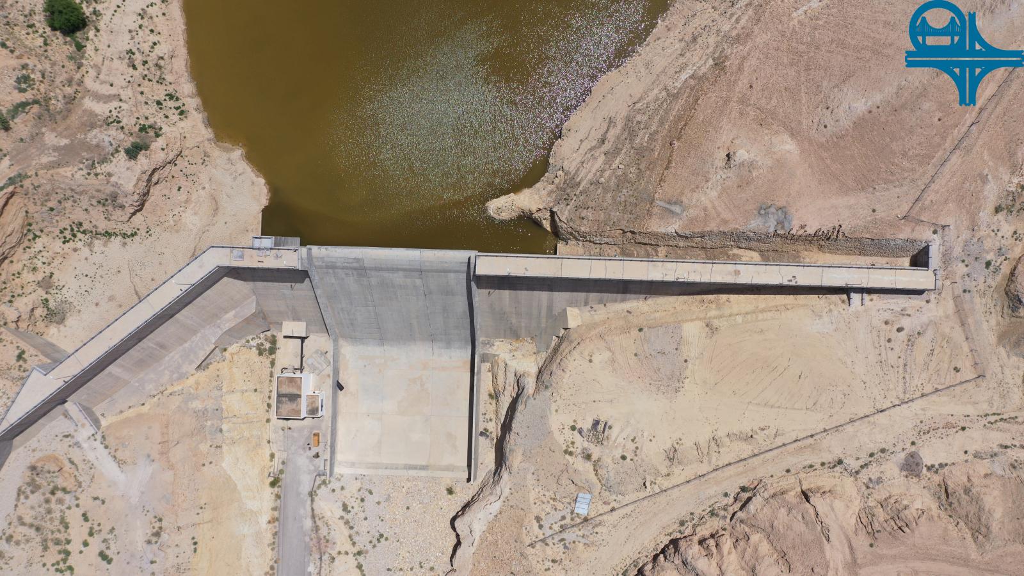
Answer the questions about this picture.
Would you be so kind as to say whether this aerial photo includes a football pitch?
No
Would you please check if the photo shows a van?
No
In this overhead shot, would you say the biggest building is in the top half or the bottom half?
bottom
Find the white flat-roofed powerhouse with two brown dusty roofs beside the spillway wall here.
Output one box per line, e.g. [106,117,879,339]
[275,371,326,419]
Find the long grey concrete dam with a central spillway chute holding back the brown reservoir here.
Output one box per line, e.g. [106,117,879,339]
[0,244,942,483]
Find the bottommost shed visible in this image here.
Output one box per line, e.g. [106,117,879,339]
[574,491,592,513]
